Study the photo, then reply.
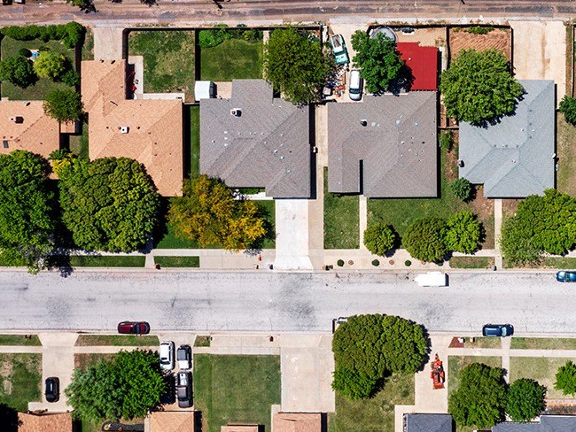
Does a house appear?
Yes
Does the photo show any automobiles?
Yes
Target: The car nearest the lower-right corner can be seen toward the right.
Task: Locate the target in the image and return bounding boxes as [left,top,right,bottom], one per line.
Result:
[482,323,514,338]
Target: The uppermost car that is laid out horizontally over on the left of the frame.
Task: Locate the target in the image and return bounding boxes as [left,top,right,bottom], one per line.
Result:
[119,321,152,336]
